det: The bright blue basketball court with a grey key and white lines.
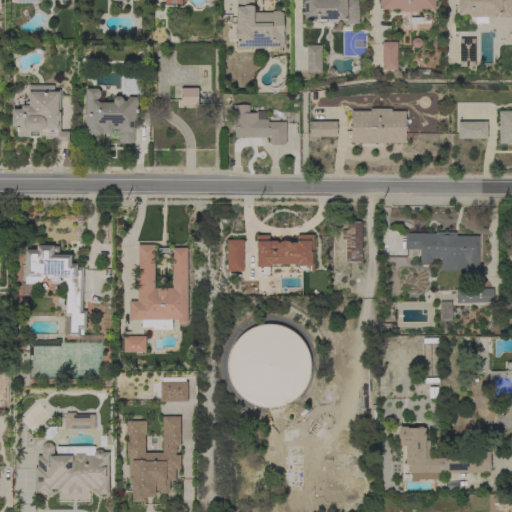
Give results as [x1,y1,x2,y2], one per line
[344,31,368,56]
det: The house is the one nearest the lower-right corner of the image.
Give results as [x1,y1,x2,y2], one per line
[400,427,493,481]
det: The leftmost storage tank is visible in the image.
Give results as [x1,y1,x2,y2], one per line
[228,324,312,408]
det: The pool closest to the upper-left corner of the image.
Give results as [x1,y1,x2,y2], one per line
[22,14,48,32]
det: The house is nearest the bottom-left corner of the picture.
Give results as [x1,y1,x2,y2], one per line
[38,441,111,504]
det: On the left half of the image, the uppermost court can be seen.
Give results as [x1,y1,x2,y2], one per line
[33,342,103,378]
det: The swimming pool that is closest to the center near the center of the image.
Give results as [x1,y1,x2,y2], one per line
[281,277,302,292]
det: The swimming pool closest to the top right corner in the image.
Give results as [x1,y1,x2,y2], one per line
[481,32,494,63]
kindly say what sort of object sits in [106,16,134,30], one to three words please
swimming pool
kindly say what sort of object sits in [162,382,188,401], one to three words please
shed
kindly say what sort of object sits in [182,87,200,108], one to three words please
building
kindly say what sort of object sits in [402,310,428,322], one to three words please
swimming pool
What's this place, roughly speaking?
residential area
